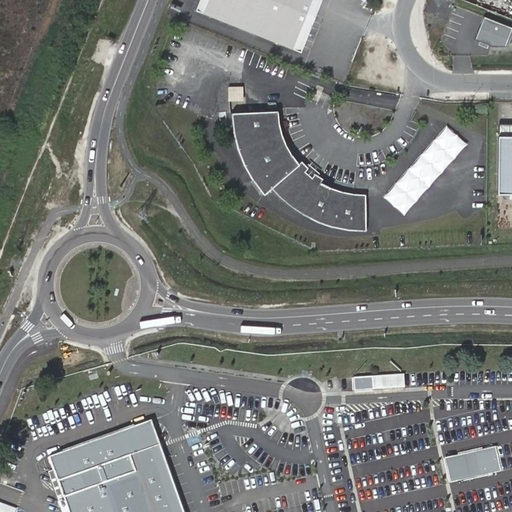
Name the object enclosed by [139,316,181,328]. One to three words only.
vehicle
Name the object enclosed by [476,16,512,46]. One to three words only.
building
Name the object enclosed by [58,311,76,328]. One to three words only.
vehicle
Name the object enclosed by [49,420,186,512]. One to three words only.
building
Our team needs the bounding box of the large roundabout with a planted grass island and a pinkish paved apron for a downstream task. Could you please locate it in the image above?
[38,215,164,346]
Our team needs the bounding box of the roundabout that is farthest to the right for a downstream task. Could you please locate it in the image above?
[280,375,326,421]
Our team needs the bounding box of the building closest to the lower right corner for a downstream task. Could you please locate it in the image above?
[445,445,502,482]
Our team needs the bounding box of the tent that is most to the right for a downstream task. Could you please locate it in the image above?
[384,126,468,216]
